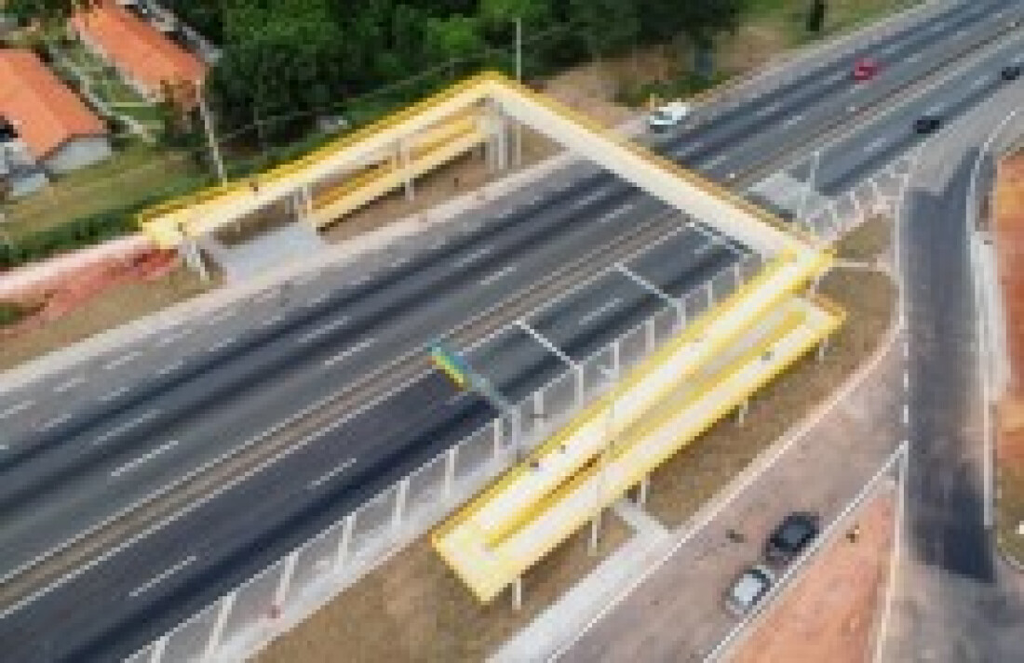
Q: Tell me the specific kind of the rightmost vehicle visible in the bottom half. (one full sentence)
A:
The rightmost vehicle visible in the bottom half is an automobile.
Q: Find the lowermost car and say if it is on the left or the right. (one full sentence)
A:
You can find the lowermost car on the right side of the picture.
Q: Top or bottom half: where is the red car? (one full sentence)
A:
It is in the top half that the red car appears.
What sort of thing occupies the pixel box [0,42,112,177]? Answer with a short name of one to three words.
house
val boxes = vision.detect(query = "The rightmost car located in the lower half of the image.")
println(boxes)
[758,507,819,564]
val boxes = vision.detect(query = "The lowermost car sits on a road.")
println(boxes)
[714,554,775,612]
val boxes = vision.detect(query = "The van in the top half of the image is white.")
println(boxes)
[647,96,687,126]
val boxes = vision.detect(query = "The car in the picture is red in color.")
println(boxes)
[850,57,878,77]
